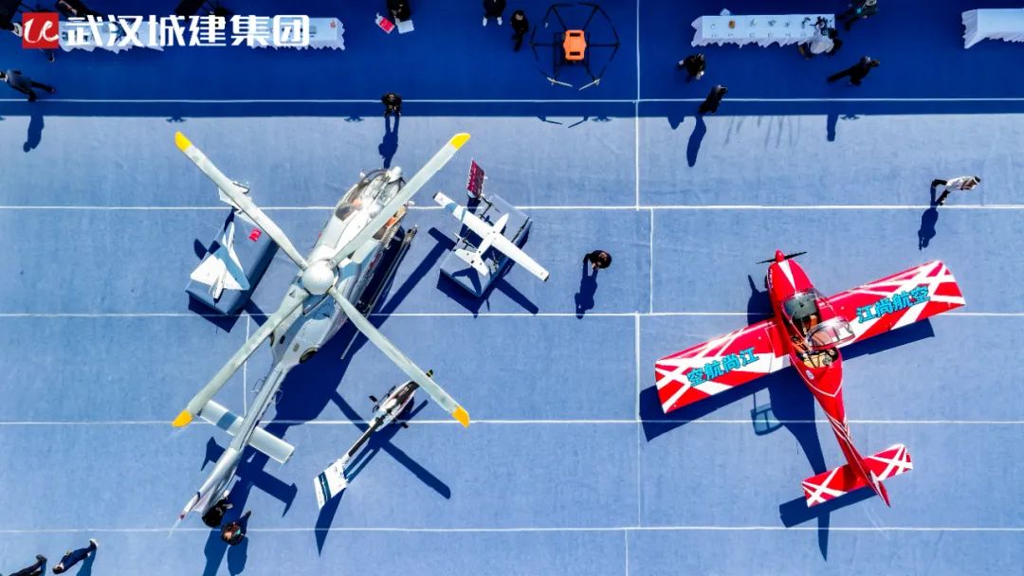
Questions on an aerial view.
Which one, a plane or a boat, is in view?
plane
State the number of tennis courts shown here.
0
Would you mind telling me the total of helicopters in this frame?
2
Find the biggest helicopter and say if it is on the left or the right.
left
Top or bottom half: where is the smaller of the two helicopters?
bottom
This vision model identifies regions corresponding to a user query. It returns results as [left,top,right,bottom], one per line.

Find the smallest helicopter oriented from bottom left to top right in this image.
[335,368,433,464]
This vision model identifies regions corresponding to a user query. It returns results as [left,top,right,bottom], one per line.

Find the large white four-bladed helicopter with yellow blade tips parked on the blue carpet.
[173,134,469,528]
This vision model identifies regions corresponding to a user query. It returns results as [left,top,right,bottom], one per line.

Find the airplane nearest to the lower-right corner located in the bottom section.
[656,250,965,508]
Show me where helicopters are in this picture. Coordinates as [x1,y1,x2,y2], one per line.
[173,134,469,528]
[335,368,433,464]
